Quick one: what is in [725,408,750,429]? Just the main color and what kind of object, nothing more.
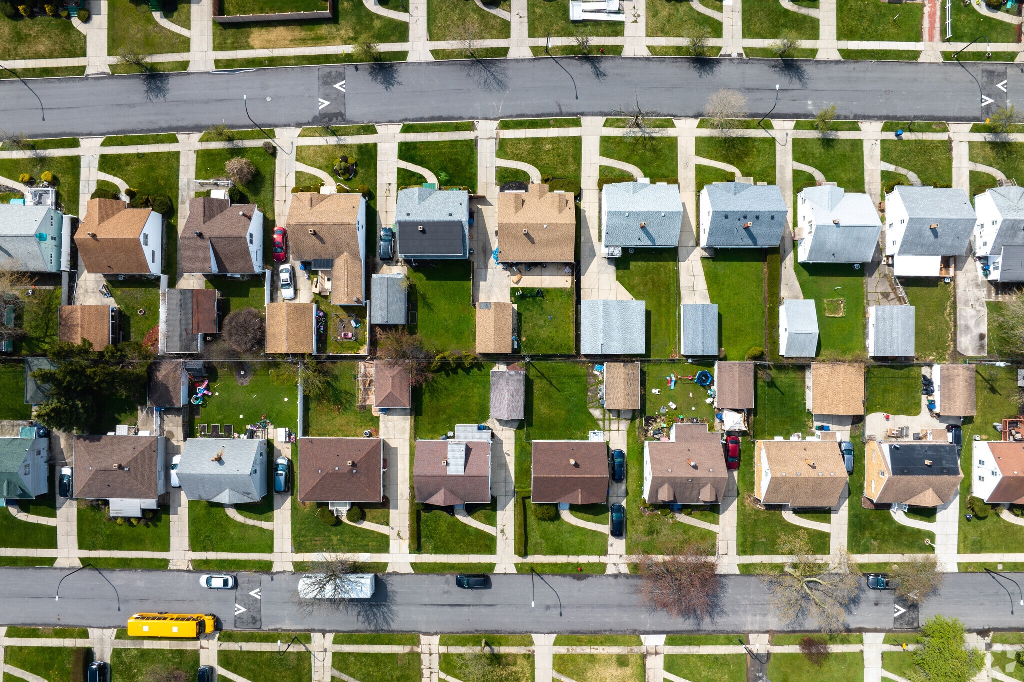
white tent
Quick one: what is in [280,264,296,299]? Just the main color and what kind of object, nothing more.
white car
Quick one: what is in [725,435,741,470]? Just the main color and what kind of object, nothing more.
red car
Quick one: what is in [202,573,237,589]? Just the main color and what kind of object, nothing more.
white car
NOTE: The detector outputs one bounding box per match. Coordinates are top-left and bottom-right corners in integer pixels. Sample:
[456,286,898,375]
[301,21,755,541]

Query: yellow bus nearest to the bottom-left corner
[128,613,217,637]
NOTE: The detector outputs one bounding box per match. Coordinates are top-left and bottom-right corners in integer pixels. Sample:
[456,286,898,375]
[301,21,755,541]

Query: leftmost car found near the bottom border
[88,658,108,682]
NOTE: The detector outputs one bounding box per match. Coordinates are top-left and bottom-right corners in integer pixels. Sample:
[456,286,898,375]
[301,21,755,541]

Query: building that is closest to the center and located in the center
[476,302,512,353]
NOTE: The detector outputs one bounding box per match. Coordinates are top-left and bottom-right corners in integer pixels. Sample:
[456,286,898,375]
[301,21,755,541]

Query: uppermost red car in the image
[272,227,288,262]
